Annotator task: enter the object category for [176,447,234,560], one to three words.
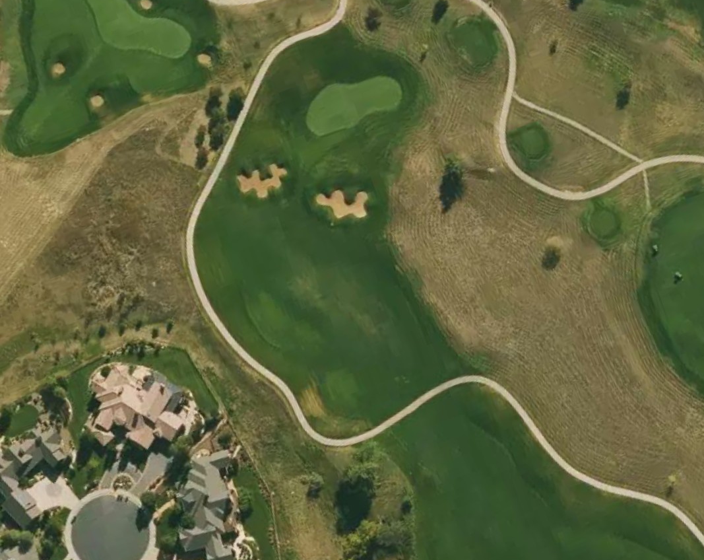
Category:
house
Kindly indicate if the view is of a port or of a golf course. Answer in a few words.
golf course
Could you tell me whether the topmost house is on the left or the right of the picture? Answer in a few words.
left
